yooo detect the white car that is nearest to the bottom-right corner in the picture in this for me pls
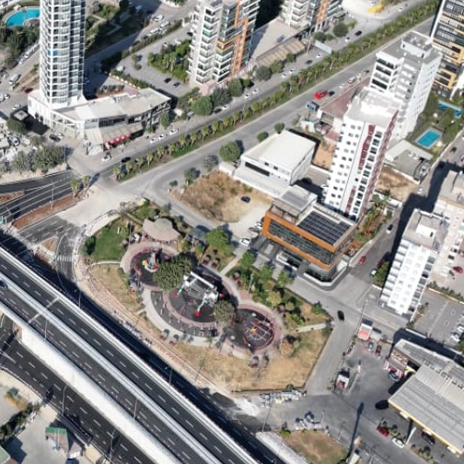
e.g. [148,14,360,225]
[388,437,406,451]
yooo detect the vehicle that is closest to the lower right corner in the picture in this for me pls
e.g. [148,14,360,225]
[419,431,436,445]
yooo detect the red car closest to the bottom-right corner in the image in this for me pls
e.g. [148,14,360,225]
[374,425,390,438]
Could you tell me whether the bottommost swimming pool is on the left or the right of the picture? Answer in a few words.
right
